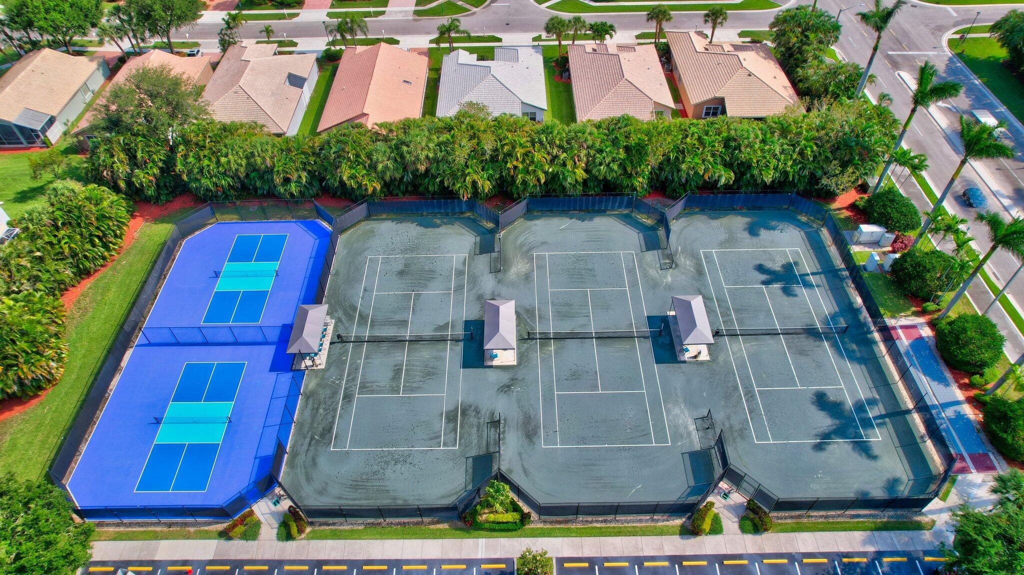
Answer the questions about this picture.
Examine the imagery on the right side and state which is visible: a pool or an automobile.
automobile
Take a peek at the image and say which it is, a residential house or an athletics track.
residential house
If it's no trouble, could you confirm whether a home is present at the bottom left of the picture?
No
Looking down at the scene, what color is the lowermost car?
blue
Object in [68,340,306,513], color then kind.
blue sports court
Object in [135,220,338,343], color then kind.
blue sports court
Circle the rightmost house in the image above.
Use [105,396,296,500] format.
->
[666,30,806,132]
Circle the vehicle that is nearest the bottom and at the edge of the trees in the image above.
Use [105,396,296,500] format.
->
[960,184,992,212]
